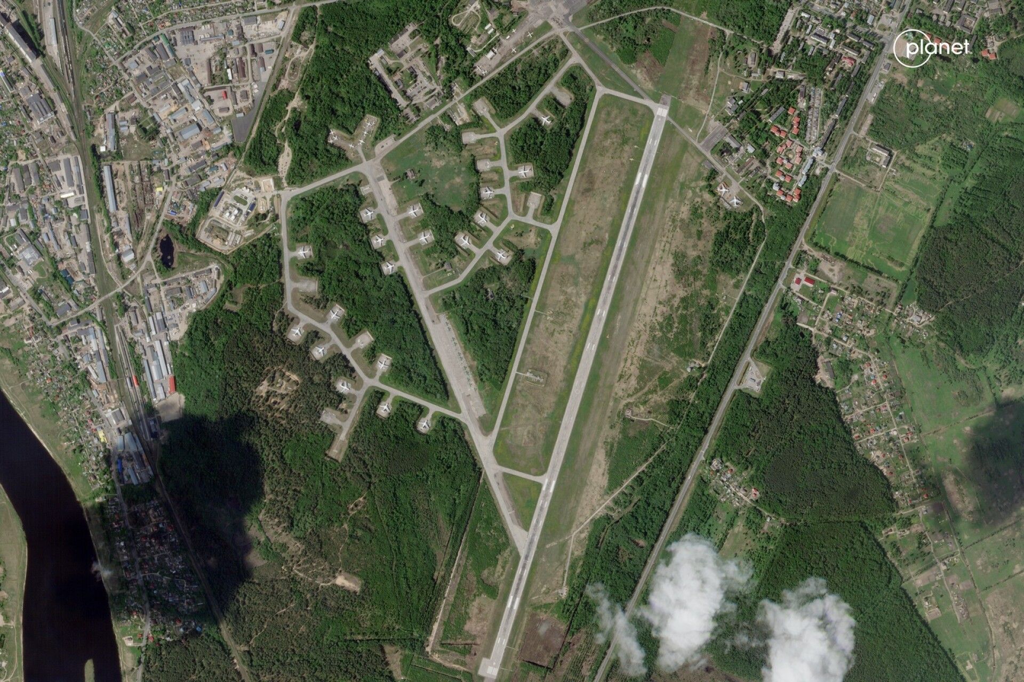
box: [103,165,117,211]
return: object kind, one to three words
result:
building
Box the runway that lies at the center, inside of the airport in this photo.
[486,103,669,679]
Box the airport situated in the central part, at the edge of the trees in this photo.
[278,0,739,682]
